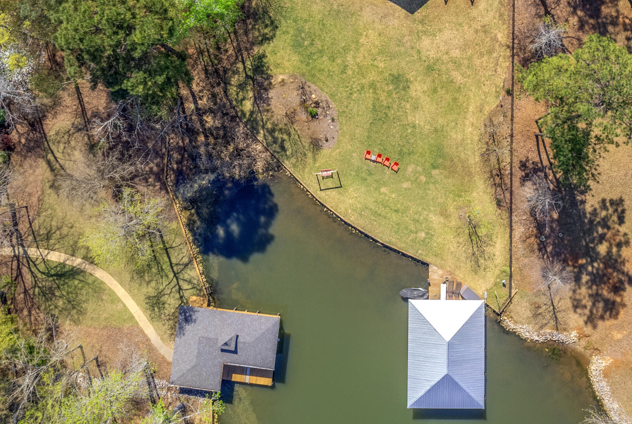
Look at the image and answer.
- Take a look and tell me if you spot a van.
No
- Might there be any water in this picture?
Yes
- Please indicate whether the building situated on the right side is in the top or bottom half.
bottom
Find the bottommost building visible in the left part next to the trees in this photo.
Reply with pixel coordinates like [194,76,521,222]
[169,296,282,392]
